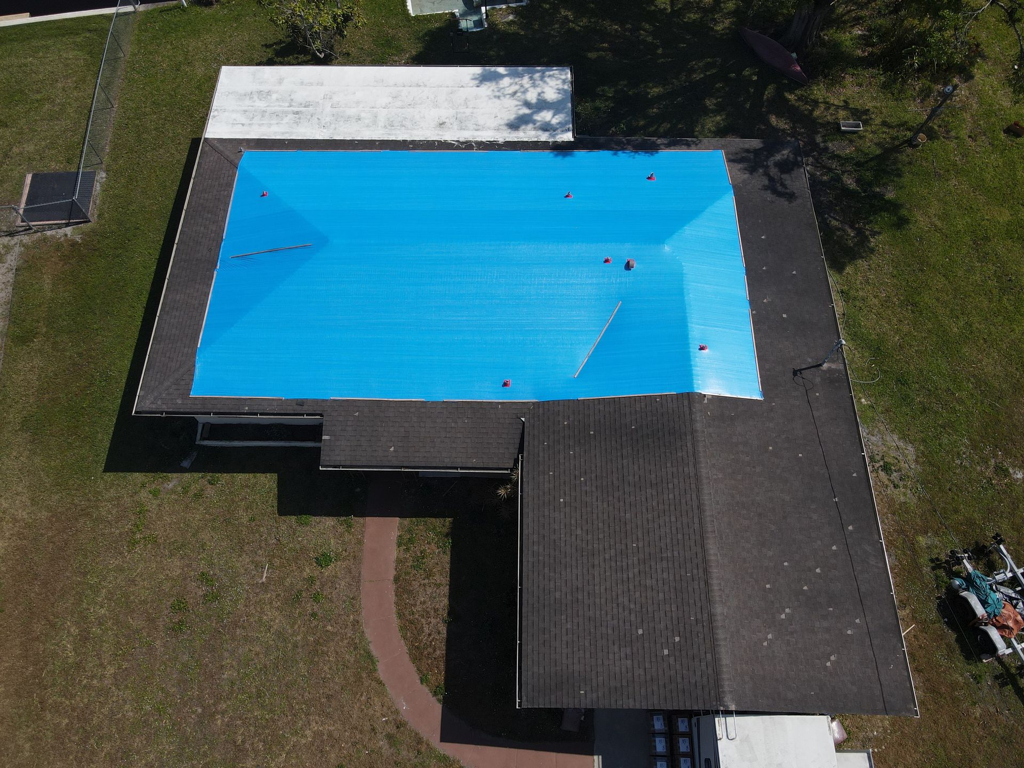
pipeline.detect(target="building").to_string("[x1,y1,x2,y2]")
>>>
[132,66,918,717]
